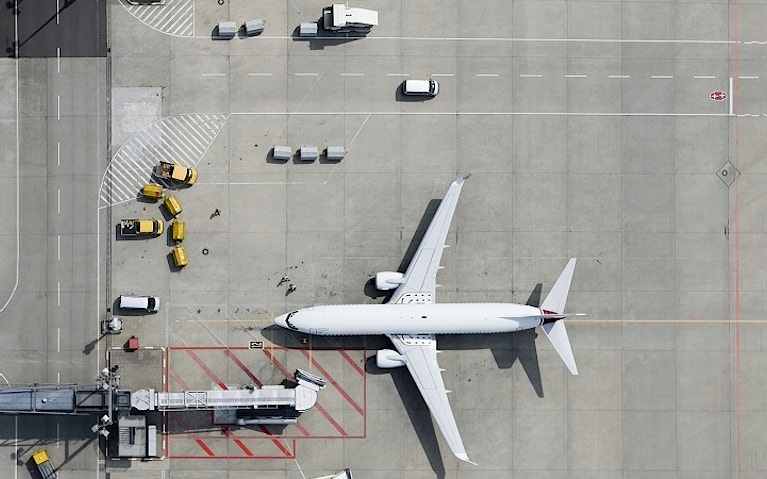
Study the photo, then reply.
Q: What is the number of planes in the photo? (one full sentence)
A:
Just 1 plane appears in this view.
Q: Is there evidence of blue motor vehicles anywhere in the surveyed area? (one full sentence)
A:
No, I can't see a single blue motor vehicle in this photo.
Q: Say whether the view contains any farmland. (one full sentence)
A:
No, farmland can't be seen anywhere here.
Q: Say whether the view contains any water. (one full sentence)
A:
No, there is no water in the image.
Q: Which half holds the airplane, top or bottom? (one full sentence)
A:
It is in the bottom half that the airplane appears.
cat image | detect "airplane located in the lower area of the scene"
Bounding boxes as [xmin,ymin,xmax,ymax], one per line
[274,174,587,463]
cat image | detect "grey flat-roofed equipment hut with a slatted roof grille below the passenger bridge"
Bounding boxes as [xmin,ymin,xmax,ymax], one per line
[118,412,147,457]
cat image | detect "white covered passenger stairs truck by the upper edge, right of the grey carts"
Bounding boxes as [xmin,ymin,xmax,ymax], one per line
[326,4,381,34]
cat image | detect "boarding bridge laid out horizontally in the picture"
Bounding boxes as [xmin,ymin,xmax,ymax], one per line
[0,366,326,434]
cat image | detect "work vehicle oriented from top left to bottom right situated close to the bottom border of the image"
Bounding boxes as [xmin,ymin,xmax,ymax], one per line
[31,448,61,479]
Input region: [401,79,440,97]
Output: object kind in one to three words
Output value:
vehicle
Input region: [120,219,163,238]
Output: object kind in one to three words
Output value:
vehicle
